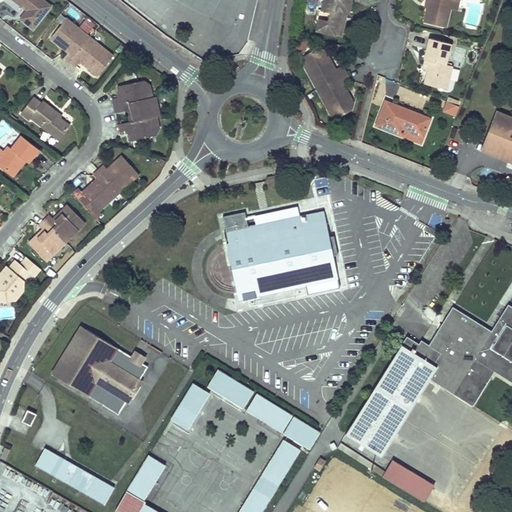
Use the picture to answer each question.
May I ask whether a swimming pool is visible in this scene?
Yes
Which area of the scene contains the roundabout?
top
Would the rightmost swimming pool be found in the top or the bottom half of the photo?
top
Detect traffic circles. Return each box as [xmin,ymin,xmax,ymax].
[186,58,310,171]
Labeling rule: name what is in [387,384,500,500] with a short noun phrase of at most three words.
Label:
sports court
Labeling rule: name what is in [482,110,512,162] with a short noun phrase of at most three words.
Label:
house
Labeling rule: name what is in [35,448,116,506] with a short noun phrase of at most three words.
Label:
shed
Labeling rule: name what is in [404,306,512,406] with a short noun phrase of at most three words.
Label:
building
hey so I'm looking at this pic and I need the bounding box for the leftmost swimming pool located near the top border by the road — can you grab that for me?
[62,4,85,25]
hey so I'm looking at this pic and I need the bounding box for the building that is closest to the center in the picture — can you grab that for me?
[224,207,340,306]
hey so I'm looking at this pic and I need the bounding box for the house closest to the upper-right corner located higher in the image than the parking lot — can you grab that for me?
[424,0,462,28]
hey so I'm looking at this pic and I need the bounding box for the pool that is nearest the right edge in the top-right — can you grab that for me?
[460,0,484,30]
